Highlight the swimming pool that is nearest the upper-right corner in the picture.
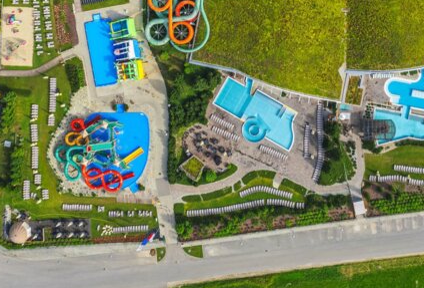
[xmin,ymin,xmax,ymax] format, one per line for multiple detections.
[385,68,424,112]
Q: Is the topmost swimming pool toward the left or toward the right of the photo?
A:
left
